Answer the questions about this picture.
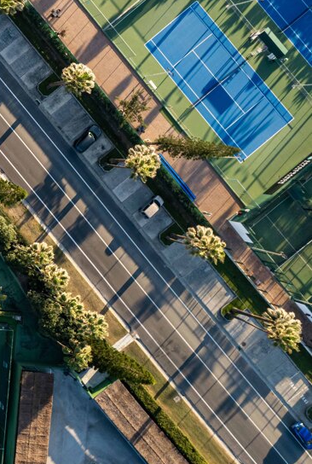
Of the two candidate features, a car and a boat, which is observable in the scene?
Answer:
car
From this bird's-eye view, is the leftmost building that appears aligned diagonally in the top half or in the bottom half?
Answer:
bottom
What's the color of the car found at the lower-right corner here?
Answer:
blue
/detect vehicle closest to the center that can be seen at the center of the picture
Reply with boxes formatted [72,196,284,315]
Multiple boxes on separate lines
[140,195,165,217]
